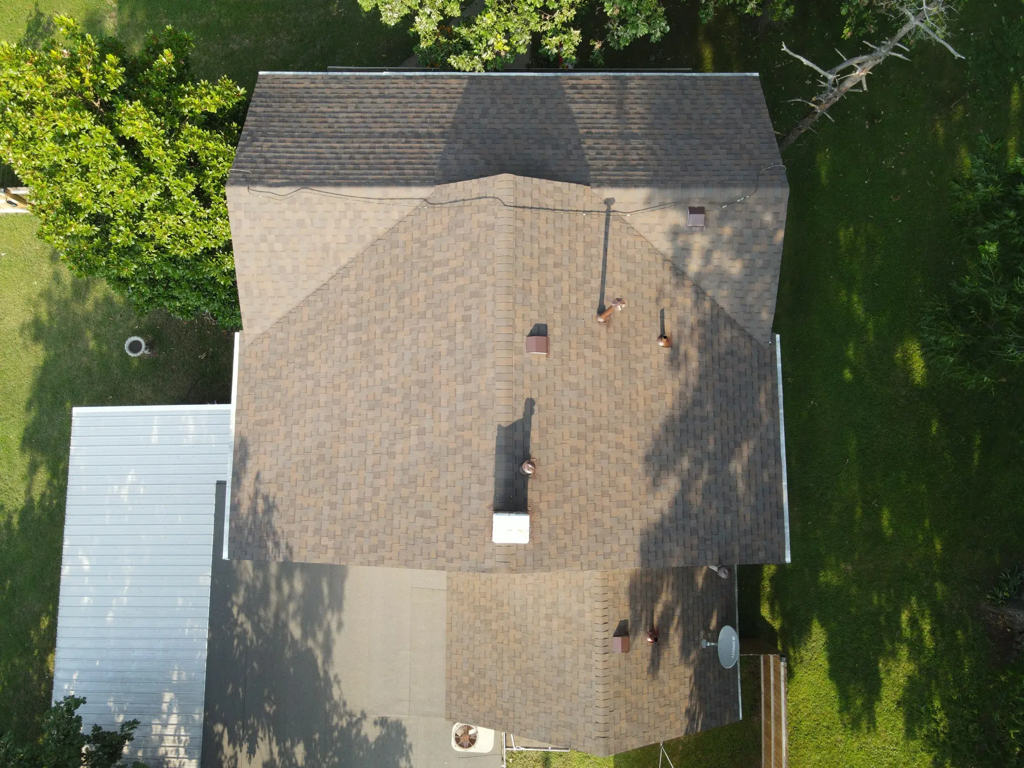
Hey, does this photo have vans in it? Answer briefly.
No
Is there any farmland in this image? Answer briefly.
No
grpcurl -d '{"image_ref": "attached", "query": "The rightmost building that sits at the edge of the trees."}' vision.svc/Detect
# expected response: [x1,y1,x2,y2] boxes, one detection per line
[204,70,790,768]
